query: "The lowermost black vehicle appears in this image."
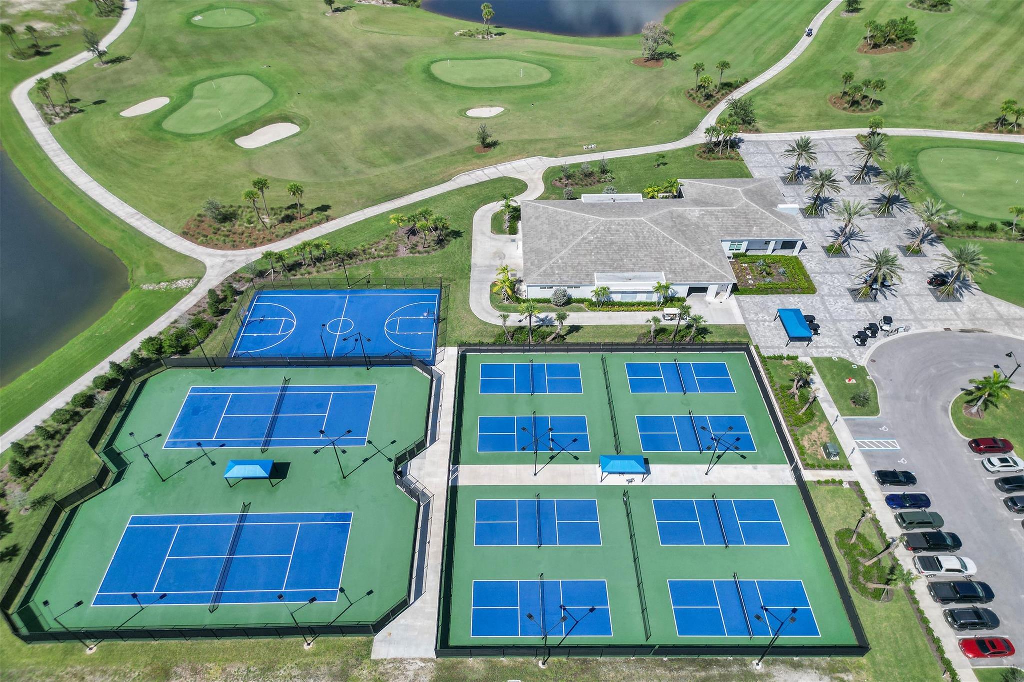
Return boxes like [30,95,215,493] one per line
[943,604,1005,630]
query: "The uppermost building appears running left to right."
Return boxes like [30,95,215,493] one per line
[521,177,808,301]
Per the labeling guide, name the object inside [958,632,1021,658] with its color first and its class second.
red car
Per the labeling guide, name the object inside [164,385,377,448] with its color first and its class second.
blue tennis court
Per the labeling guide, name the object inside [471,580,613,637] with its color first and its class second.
blue sports court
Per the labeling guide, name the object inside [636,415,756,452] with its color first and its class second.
blue sports court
